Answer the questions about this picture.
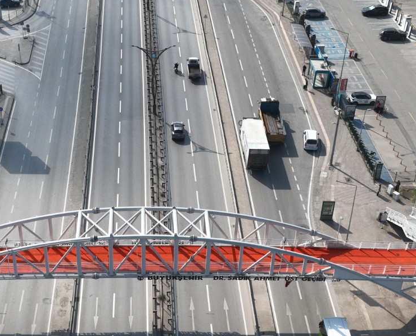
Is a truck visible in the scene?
Yes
